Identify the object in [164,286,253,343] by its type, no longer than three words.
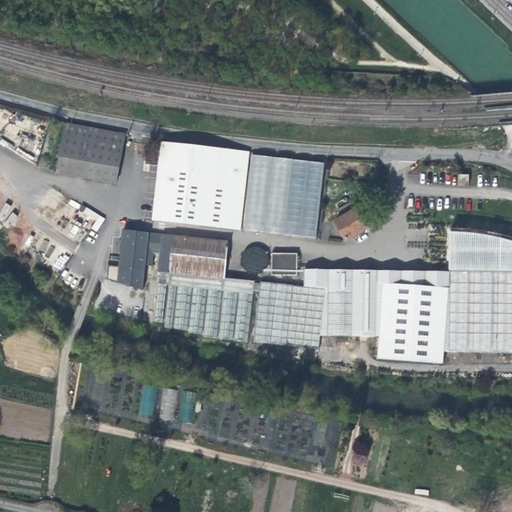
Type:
greenhouse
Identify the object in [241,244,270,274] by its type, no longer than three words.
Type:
storage tank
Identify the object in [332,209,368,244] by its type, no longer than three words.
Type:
house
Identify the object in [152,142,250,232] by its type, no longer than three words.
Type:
building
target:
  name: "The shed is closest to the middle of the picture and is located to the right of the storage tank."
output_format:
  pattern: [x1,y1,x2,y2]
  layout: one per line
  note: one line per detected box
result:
[270,253,298,276]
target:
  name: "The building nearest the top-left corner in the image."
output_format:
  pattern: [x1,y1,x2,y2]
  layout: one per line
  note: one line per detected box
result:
[55,122,126,186]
